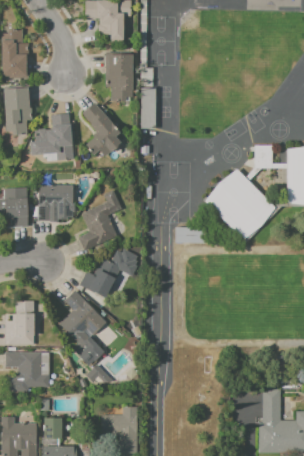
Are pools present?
Yes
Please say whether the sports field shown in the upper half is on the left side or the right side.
right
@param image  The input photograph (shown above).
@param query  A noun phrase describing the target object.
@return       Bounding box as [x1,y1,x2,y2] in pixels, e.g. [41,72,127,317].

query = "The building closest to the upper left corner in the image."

[2,30,28,79]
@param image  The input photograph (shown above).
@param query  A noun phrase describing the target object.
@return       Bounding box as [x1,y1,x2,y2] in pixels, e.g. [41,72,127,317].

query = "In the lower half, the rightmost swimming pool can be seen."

[98,349,137,380]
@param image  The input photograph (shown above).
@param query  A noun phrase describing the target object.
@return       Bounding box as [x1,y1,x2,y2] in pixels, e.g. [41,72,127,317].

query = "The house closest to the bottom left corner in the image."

[2,418,37,456]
